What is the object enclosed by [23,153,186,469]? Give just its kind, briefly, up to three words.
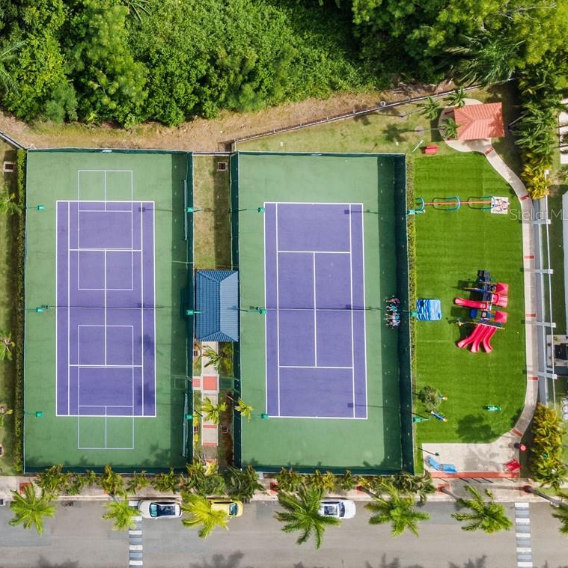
tennis court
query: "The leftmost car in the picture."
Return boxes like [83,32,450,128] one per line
[138,498,181,520]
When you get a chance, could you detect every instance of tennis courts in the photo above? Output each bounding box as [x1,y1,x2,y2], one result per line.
[230,155,402,469]
[23,153,186,469]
